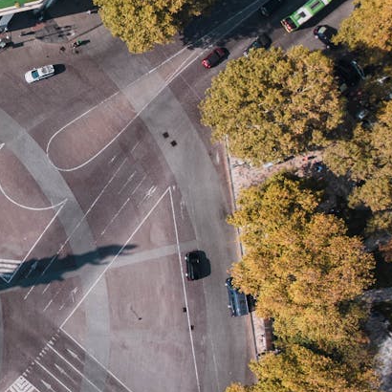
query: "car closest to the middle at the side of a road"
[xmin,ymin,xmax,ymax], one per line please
[184,251,200,280]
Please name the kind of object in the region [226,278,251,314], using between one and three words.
vehicle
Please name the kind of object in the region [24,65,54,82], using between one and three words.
car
